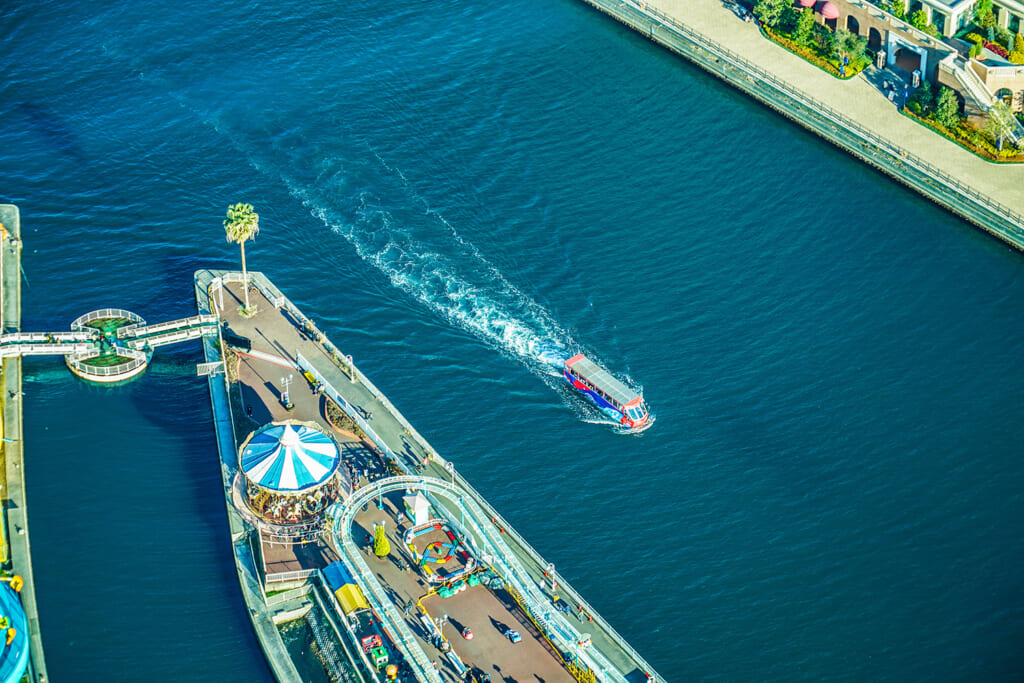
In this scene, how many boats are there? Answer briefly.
1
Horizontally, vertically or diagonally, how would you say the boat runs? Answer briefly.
diagonally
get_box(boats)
[563,354,650,428]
